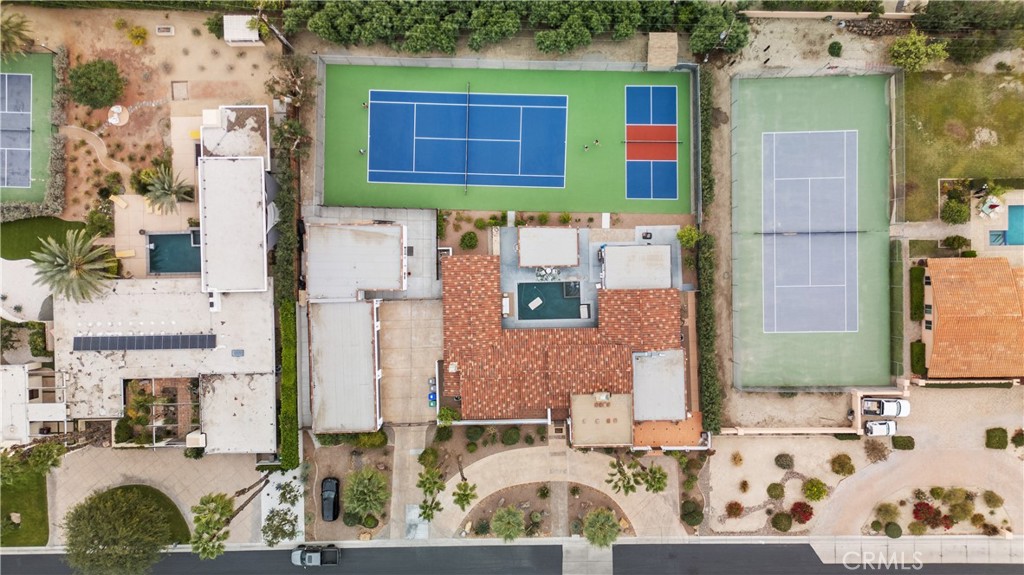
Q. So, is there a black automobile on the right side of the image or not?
No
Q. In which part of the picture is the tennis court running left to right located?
top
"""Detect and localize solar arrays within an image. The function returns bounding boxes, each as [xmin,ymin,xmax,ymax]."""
[74,335,216,350]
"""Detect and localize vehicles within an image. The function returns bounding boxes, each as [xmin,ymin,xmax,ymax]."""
[864,420,896,438]
[319,477,341,521]
[292,545,342,569]
[863,398,910,419]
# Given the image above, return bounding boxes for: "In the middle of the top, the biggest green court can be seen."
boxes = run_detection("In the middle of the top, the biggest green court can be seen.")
[323,65,626,213]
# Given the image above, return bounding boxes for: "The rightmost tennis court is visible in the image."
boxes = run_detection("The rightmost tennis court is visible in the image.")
[733,74,891,387]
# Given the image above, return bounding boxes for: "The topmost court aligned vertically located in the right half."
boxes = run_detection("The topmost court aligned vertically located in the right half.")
[626,70,692,214]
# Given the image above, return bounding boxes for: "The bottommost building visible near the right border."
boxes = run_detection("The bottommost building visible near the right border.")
[921,258,1024,378]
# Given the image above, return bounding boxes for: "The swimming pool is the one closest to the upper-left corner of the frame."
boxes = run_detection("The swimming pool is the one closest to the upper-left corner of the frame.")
[145,229,201,276]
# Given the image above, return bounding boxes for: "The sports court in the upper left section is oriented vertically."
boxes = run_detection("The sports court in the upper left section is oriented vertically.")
[0,54,52,205]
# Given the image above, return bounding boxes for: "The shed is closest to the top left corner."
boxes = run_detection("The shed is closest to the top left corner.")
[223,15,264,47]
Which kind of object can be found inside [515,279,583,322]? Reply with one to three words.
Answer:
swimming pool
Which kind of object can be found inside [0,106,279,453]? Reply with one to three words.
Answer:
house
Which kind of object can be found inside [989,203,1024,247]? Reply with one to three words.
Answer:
swimming pool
